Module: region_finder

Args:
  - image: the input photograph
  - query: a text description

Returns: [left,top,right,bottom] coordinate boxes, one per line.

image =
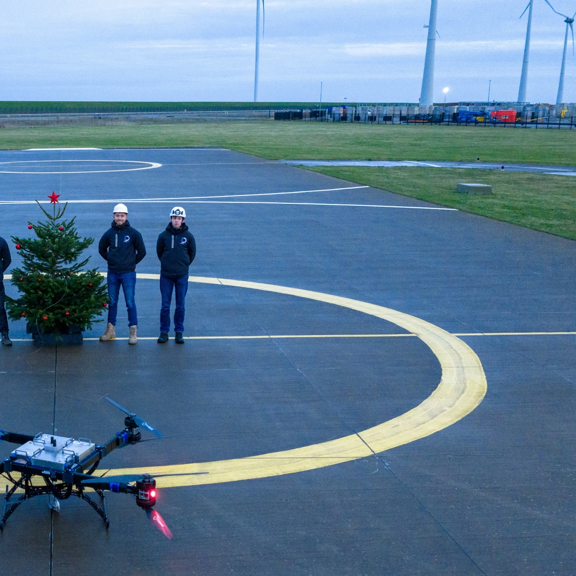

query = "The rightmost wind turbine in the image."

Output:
[551,0,576,99]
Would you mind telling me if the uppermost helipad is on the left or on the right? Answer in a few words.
left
